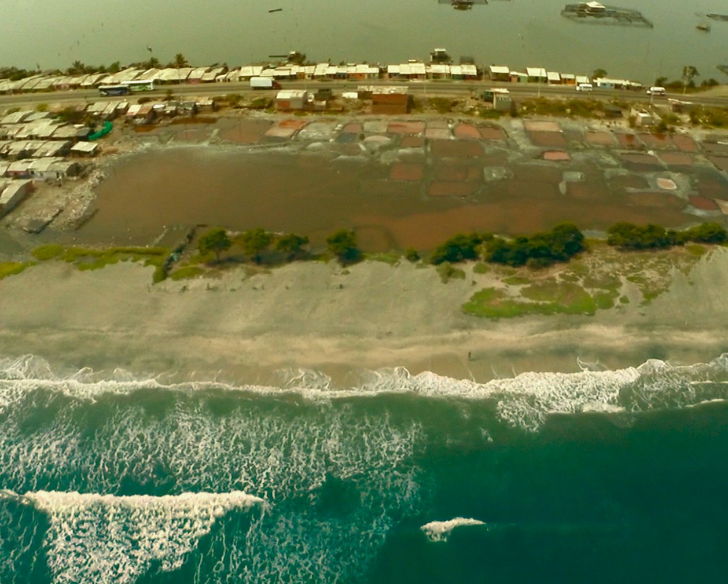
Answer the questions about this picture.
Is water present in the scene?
Yes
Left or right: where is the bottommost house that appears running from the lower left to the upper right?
left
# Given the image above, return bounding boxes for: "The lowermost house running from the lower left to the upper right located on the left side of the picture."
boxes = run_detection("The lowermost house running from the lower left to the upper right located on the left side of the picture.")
[0,177,34,215]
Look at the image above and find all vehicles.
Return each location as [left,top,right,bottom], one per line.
[577,84,593,91]
[120,78,156,89]
[96,82,131,95]
[248,76,280,88]
[649,87,666,95]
